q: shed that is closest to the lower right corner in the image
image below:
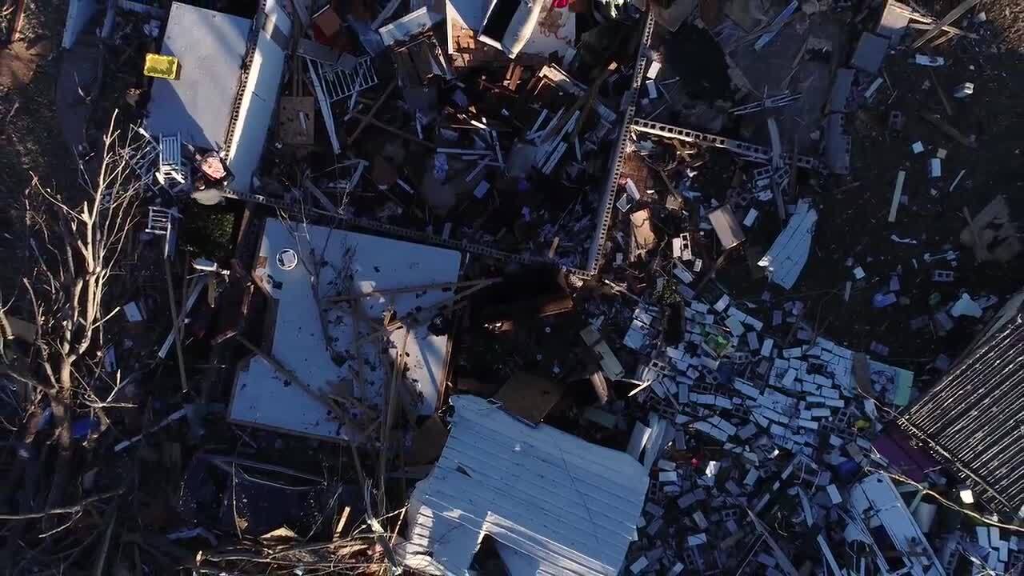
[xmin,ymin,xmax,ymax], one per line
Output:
[894,321,1024,523]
